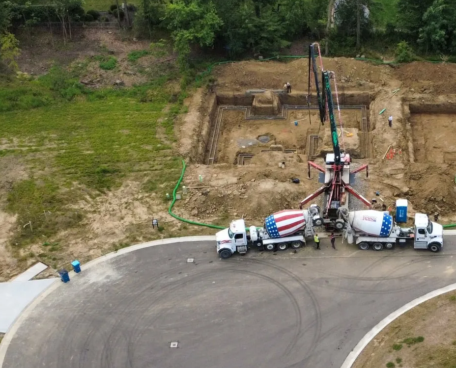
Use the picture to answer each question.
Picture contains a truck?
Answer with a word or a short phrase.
Yes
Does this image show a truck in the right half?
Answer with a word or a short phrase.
Yes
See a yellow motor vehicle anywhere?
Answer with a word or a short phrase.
No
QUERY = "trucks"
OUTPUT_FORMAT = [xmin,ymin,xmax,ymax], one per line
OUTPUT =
[336,207,446,253]
[299,43,374,223]
[213,205,322,259]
